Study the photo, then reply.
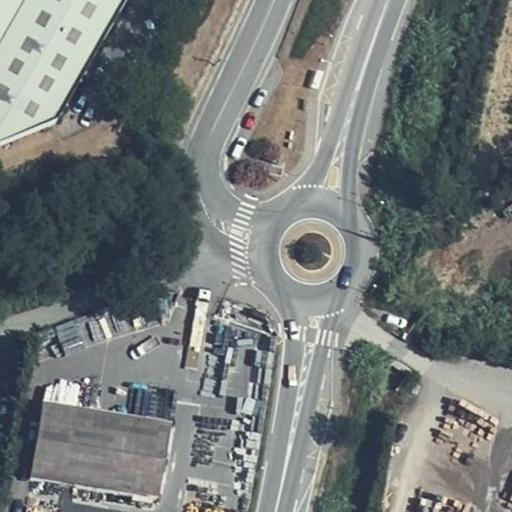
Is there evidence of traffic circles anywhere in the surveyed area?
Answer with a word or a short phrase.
Yes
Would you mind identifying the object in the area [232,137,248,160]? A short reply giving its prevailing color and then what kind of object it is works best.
white vehicle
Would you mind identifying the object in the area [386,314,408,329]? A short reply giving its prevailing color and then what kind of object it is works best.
white car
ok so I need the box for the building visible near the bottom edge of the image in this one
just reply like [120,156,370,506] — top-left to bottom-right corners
[30,401,173,503]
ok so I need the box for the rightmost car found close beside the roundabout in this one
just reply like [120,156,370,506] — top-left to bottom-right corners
[338,264,356,290]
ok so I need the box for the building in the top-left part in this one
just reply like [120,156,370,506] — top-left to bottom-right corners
[0,0,130,150]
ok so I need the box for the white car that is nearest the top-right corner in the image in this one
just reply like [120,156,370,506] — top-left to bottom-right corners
[254,89,268,107]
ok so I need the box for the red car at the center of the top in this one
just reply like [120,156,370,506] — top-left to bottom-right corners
[244,114,256,130]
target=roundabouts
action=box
[278,218,346,286]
